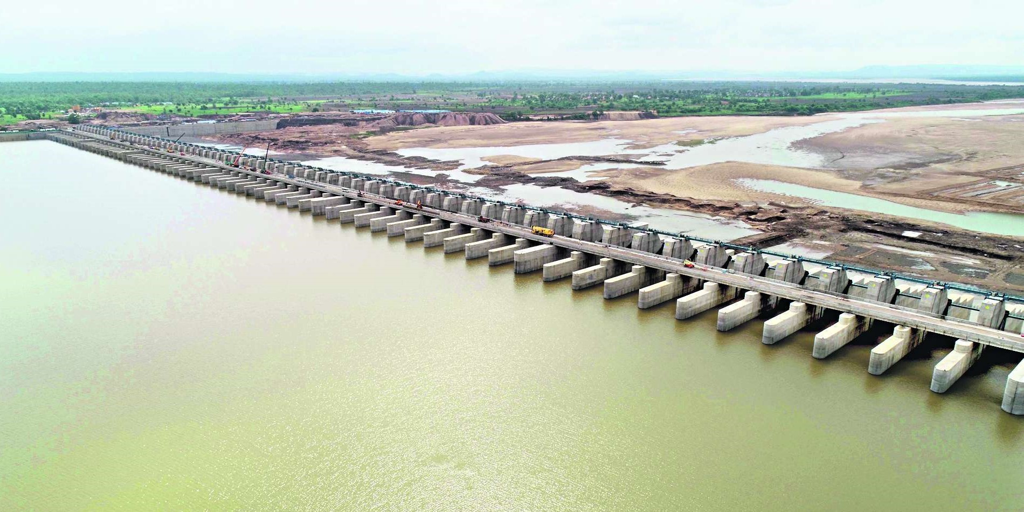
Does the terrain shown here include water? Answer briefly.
Yes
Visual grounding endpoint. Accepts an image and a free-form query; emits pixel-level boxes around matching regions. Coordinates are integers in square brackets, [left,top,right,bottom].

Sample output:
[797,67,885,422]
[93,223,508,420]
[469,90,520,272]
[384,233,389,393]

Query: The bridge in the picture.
[64,129,1024,352]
